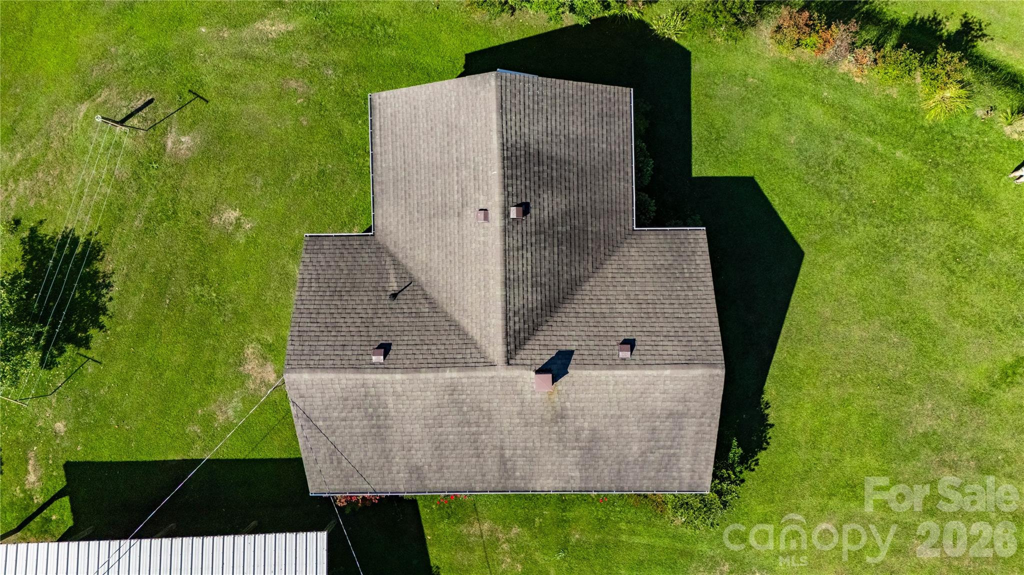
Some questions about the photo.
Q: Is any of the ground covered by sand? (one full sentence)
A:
No, the scene doesn't show any sand.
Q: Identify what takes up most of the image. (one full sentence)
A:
What you mostly see from above here is grass.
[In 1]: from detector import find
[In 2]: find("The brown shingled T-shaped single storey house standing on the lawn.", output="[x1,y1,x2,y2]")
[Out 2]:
[285,68,725,497]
